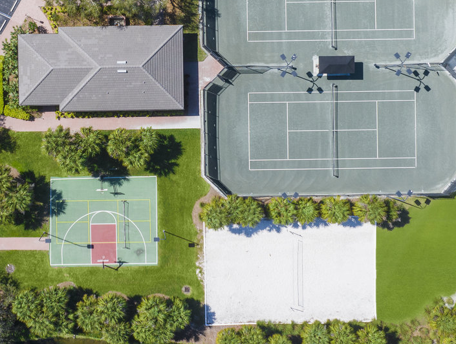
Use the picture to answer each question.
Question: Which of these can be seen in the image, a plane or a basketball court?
basketball court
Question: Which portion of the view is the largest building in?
top left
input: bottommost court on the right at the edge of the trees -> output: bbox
[204,220,377,327]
